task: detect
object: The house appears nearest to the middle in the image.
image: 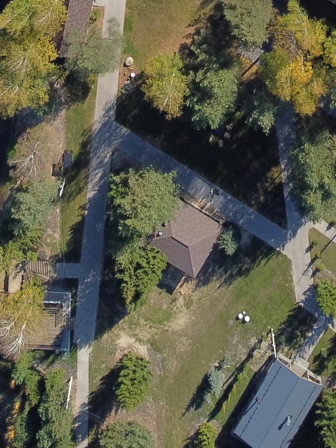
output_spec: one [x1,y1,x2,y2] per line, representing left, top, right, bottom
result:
[144,200,223,295]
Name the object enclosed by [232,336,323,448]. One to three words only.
building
